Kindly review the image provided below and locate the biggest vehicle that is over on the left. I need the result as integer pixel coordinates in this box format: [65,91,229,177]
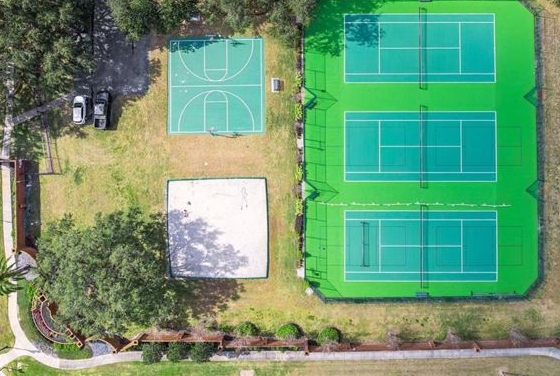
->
[92,90,109,129]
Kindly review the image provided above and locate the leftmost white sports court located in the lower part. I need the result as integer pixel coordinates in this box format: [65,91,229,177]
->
[168,178,269,279]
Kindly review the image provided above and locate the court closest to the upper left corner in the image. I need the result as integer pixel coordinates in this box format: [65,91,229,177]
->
[168,36,266,134]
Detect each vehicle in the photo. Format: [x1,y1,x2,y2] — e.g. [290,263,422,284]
[92,90,109,129]
[71,96,87,124]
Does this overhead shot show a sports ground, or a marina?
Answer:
sports ground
